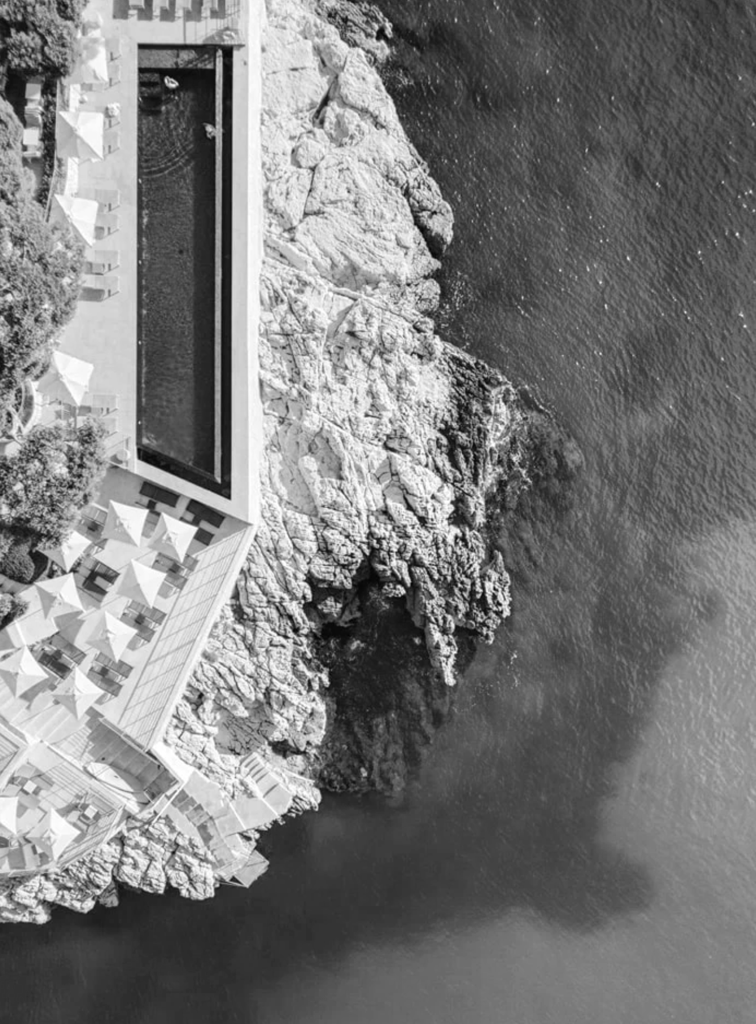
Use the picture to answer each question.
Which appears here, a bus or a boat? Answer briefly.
boat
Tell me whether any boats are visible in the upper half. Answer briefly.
No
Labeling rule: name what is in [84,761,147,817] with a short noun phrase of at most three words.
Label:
boat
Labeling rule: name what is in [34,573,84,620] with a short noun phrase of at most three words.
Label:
umbrella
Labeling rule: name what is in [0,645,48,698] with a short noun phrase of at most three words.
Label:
umbrella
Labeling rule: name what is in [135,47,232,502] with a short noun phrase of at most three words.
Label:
swimming pool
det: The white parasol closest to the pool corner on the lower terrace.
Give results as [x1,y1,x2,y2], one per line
[147,513,197,562]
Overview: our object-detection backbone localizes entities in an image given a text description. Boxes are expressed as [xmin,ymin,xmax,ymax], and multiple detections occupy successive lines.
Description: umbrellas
[80,10,107,40]
[38,350,93,405]
[0,797,18,834]
[25,808,81,862]
[58,111,103,162]
[51,667,104,718]
[34,573,84,620]
[0,645,48,698]
[85,611,137,663]
[147,513,197,562]
[49,195,98,246]
[101,500,149,547]
[116,560,166,608]
[36,533,91,572]
[68,38,108,85]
